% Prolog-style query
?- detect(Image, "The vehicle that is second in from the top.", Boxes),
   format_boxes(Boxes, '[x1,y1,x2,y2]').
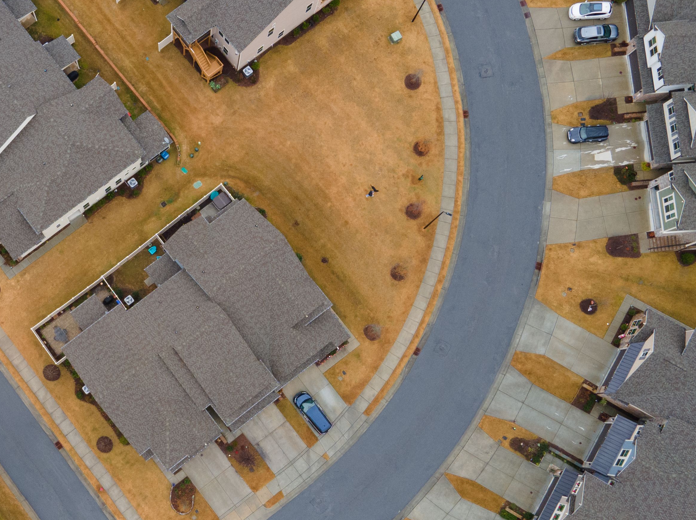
[571,23,619,47]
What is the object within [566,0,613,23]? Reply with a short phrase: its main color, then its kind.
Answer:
white car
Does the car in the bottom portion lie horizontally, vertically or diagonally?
diagonally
